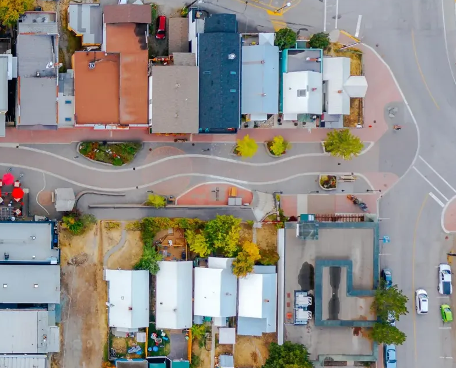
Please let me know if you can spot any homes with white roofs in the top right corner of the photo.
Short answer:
Yes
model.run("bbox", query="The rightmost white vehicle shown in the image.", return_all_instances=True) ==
[436,264,453,295]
